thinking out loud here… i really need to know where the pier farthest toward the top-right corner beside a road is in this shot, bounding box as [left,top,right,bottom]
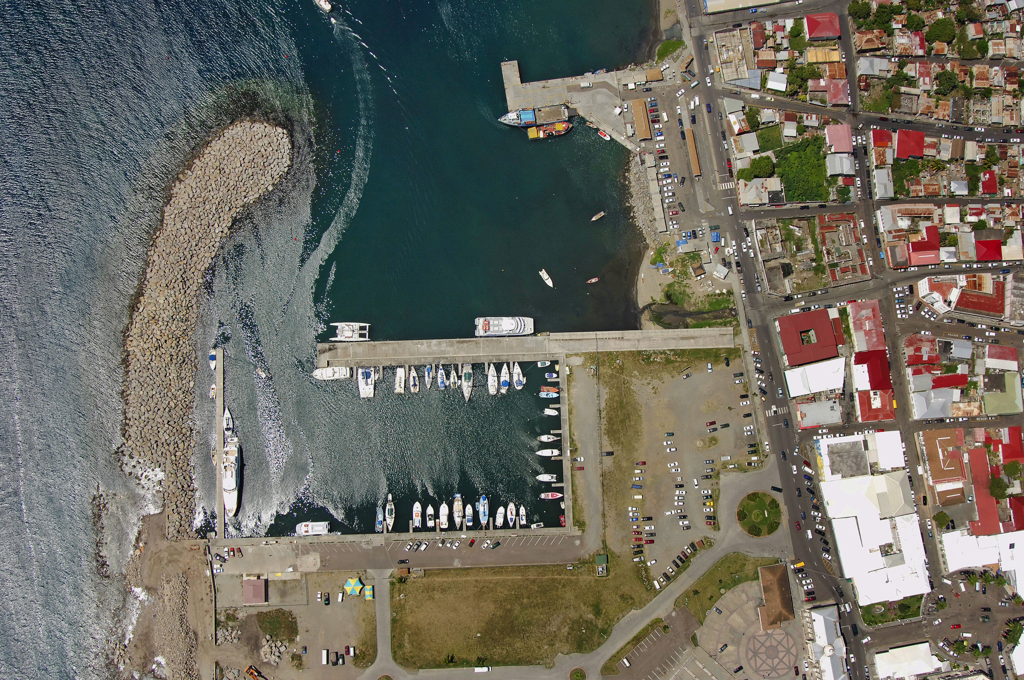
[501,61,641,152]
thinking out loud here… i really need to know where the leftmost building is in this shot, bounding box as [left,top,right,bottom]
[243,578,266,603]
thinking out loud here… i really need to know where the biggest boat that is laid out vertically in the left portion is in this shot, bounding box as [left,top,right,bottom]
[222,442,241,517]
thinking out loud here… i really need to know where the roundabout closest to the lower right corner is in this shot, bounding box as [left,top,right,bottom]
[736,492,782,537]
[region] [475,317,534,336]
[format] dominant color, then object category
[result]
white ship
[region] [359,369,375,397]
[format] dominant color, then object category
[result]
white boat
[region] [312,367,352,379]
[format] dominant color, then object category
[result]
white boat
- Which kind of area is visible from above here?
residential area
